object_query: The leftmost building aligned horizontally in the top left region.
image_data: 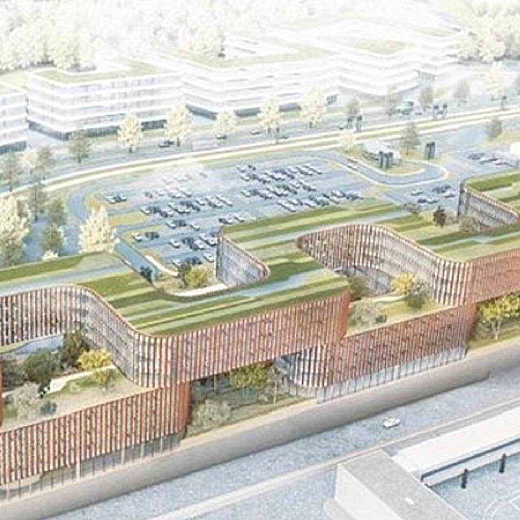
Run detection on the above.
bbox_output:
[30,59,182,135]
